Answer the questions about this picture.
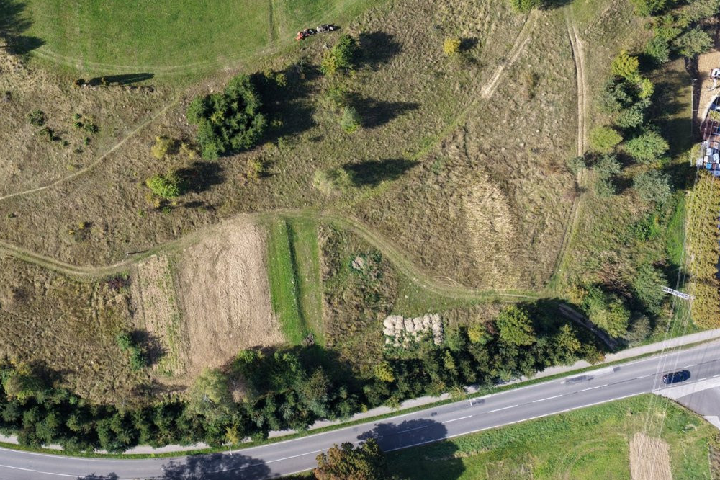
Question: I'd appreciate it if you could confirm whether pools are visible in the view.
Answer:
No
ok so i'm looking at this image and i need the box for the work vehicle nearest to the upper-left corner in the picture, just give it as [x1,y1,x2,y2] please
[292,26,312,39]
